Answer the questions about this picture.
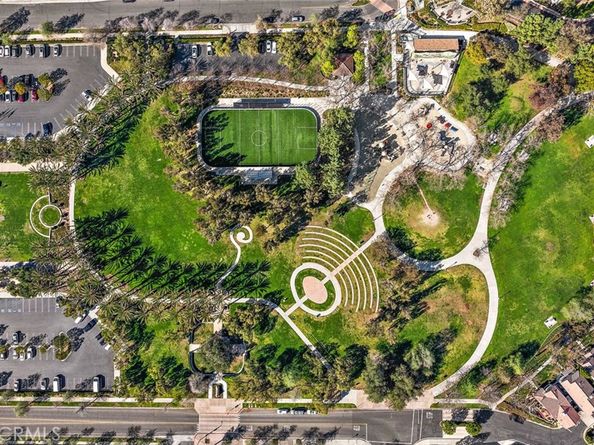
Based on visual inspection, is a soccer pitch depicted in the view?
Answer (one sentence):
Yes, the frame does contain a soccer pitch.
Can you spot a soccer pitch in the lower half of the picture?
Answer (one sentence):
No, no soccer pitch appears in the lower half of the picture.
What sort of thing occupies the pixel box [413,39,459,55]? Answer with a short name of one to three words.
building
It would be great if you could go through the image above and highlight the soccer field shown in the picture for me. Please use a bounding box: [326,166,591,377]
[200,108,319,168]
